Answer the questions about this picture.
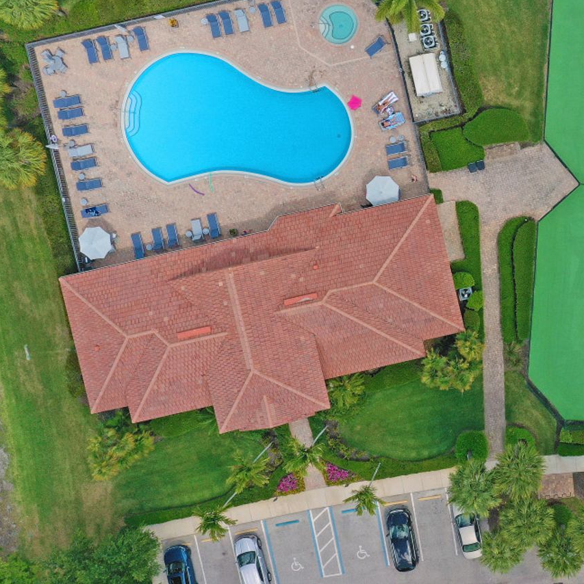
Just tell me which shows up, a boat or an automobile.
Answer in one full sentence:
I can see an automobile in this picture.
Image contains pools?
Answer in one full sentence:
Yes, there's a pool down there.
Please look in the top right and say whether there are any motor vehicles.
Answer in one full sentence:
No, there is no motor vehicle in the top right.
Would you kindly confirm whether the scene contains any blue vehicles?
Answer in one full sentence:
Yes, the photo shows a blue vehicle.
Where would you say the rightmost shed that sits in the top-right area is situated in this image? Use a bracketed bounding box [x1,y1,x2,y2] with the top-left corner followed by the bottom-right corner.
[411,53,443,98]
